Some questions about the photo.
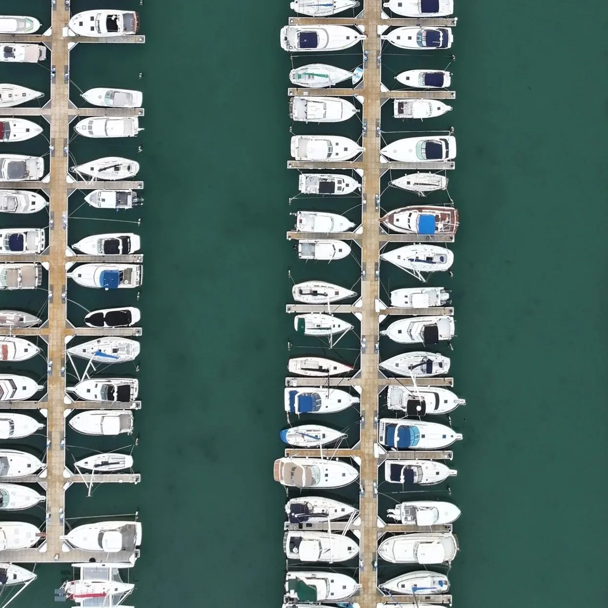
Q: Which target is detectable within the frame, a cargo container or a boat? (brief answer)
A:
boat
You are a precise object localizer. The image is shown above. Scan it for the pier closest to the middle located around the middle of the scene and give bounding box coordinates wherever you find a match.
[285,293,362,324]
